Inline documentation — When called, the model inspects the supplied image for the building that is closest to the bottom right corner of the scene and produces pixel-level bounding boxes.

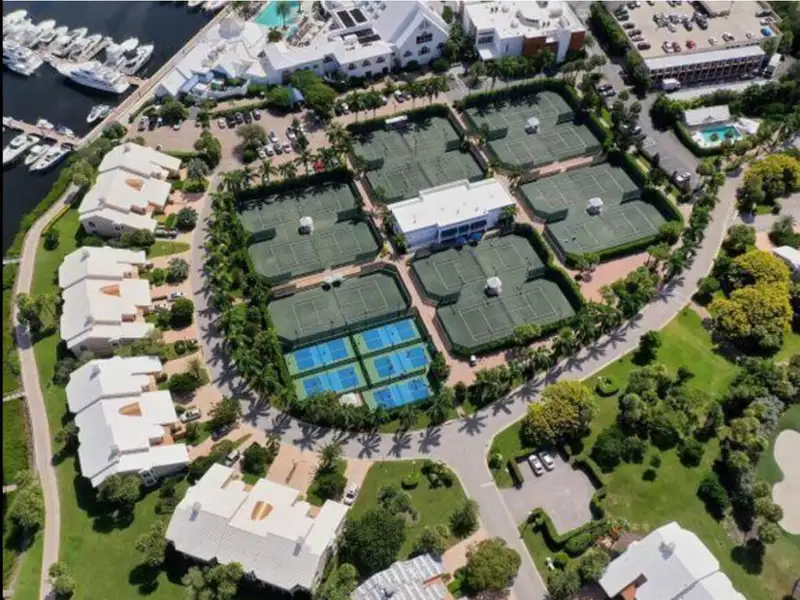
[598,521,748,600]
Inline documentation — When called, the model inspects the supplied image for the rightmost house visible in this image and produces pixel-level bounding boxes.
[771,246,800,279]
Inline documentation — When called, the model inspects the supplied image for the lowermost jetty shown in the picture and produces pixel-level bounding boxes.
[0,112,80,145]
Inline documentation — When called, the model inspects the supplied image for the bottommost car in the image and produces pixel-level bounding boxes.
[343,484,359,505]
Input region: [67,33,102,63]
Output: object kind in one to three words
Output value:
boat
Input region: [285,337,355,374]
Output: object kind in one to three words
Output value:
sports court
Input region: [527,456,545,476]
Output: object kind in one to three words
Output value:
car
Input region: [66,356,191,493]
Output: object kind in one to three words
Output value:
house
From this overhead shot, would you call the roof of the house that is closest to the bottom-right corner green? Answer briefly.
No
